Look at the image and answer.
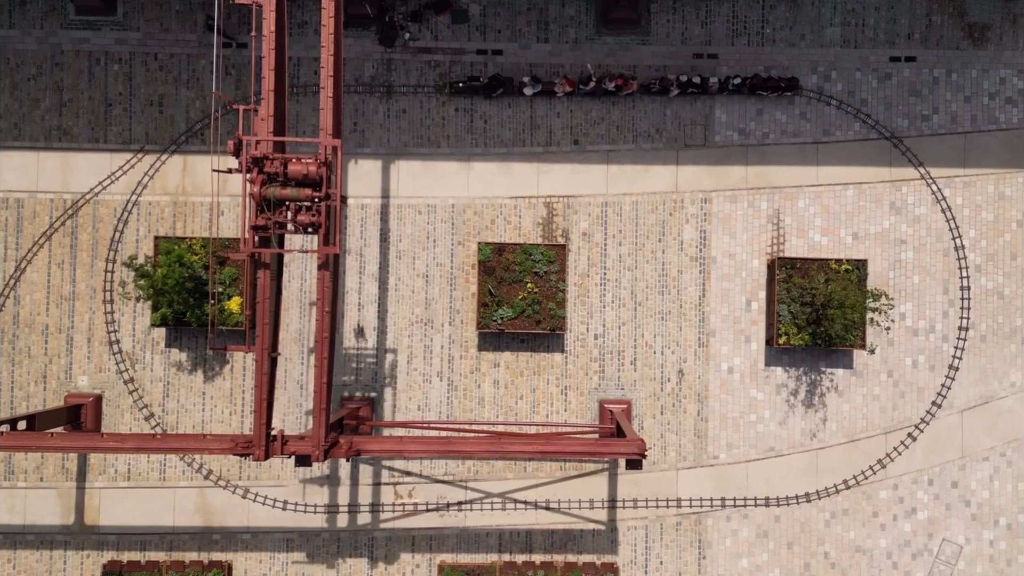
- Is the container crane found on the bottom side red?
Yes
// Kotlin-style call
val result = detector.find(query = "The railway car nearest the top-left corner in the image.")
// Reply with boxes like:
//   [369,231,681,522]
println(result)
[449,75,482,97]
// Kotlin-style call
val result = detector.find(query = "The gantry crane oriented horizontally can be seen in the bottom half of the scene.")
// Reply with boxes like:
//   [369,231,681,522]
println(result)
[0,390,650,457]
